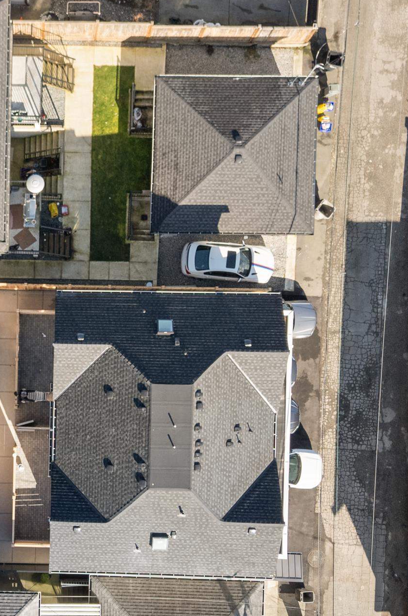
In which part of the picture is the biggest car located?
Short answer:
center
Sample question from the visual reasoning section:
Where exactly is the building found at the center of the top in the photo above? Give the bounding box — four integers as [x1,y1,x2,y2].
[147,52,331,238]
